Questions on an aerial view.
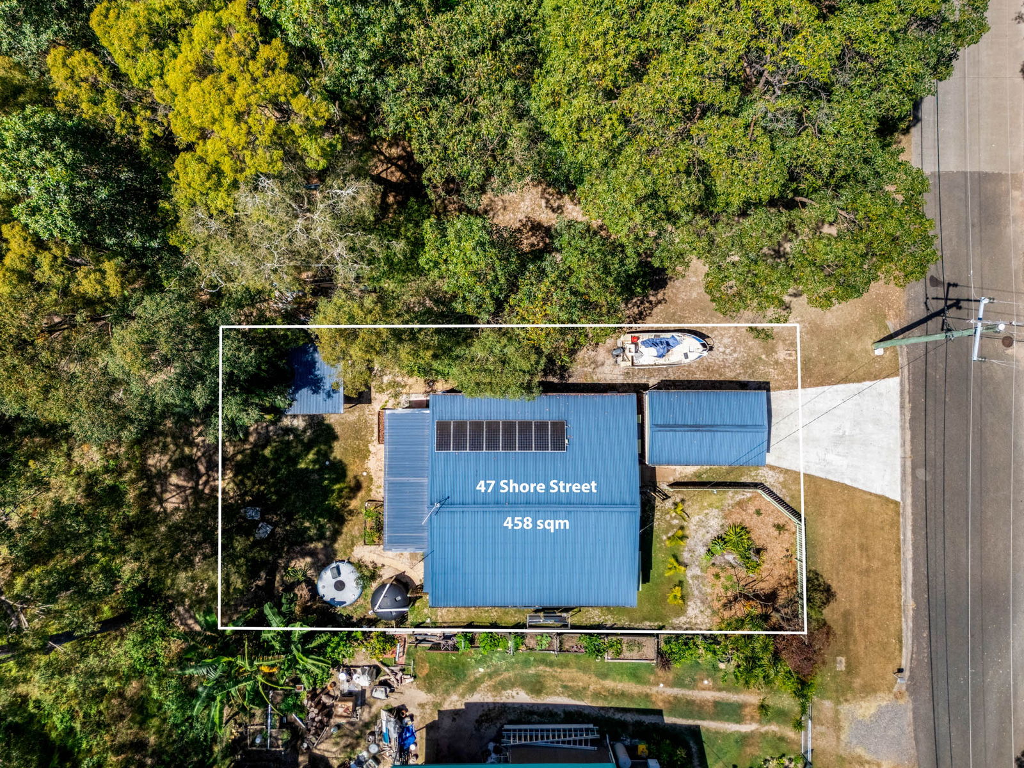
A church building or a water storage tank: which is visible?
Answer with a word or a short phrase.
water storage tank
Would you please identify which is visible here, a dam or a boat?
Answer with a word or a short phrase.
boat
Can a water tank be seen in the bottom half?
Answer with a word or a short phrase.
Yes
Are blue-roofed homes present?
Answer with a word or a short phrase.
Yes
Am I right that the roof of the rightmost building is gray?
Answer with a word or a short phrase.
No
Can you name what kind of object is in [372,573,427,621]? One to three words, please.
water tank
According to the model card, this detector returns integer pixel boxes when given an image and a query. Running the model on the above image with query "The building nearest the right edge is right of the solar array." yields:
[640,385,771,468]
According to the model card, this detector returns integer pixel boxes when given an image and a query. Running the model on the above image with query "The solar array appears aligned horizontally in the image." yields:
[434,421,569,451]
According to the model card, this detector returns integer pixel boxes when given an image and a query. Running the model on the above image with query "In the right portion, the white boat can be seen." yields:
[612,332,717,369]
